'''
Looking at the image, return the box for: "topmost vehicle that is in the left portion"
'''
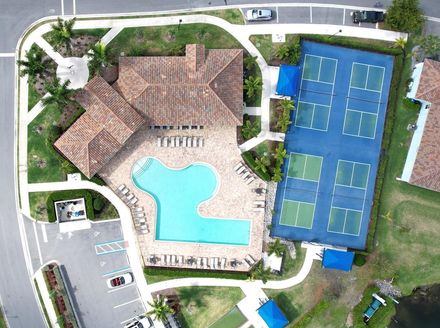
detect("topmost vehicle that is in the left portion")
[107,272,134,287]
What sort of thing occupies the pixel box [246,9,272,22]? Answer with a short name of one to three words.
vehicle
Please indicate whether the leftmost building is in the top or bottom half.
top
